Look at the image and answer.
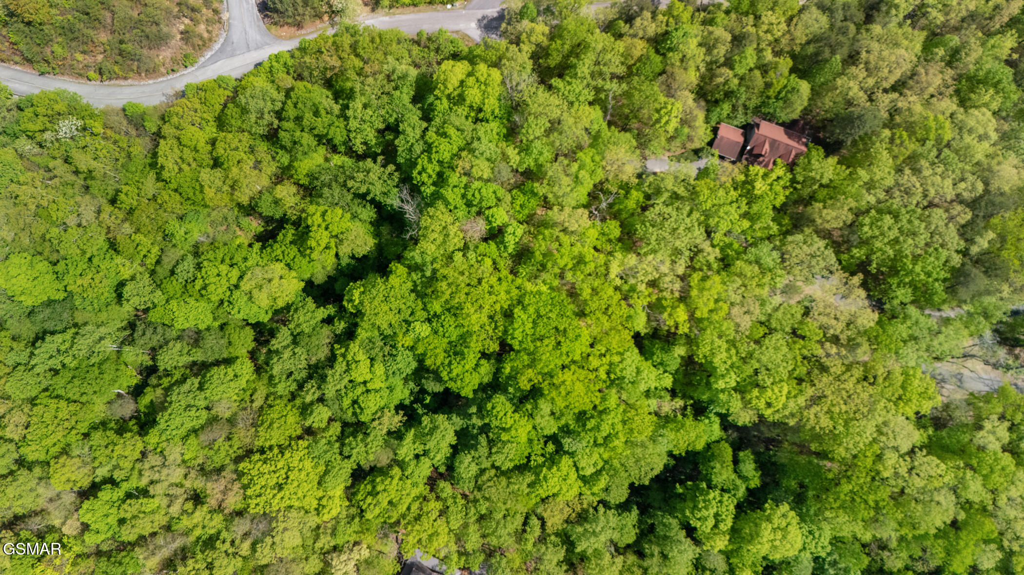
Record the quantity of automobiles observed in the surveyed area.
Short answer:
zero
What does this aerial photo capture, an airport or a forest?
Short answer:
forest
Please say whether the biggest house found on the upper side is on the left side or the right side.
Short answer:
right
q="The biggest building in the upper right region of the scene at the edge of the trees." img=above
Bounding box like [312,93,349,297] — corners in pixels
[739,112,812,177]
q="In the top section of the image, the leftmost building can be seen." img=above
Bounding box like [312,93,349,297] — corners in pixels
[712,123,745,158]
